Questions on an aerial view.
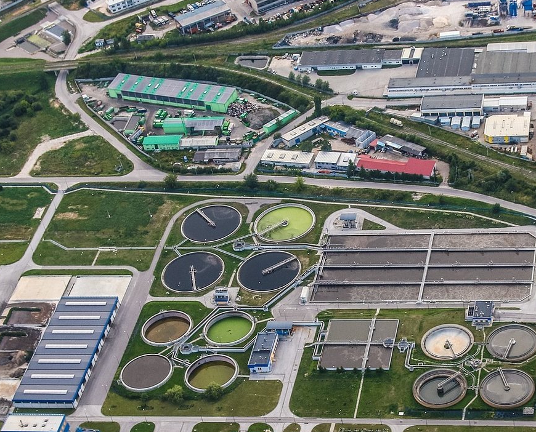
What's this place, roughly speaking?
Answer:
industrial area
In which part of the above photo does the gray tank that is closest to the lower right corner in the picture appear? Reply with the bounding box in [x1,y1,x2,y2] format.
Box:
[479,366,536,411]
